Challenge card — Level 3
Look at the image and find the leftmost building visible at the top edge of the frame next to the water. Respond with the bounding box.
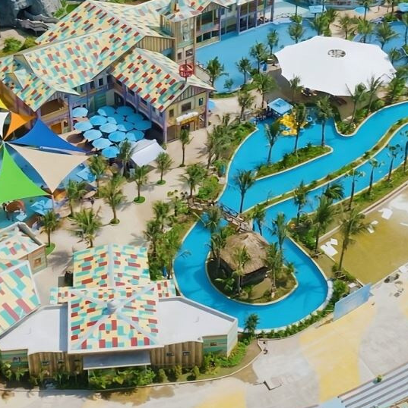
[0,0,276,147]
